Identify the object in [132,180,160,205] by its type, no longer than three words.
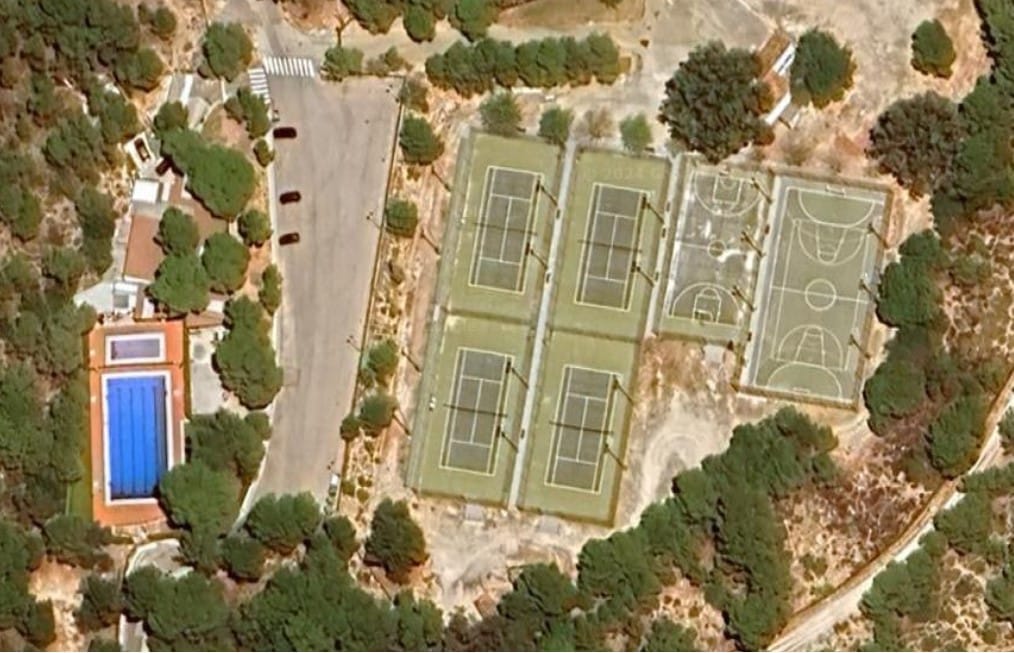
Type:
shed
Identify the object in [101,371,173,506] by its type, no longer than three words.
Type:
swimming pool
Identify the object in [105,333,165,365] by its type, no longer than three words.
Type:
swimming pool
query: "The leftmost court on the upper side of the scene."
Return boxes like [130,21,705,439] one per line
[443,137,564,323]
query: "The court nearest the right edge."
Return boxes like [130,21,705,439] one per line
[742,177,891,407]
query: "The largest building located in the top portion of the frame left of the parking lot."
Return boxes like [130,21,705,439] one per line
[124,213,161,285]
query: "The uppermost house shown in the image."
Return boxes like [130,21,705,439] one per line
[754,28,799,83]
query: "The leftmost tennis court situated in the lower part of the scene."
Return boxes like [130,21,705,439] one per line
[415,314,537,503]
